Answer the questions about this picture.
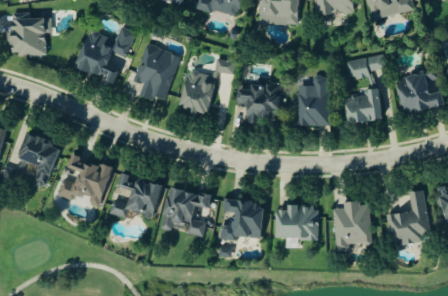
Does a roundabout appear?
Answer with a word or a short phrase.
No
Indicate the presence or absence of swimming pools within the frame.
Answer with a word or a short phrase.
Yes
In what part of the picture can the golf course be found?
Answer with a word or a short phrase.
bottom left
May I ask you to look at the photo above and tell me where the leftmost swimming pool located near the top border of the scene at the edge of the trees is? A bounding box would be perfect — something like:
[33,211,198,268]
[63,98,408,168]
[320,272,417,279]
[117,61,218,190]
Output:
[56,14,74,33]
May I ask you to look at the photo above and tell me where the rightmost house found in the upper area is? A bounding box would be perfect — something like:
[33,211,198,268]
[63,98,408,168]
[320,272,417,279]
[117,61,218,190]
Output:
[396,72,446,112]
